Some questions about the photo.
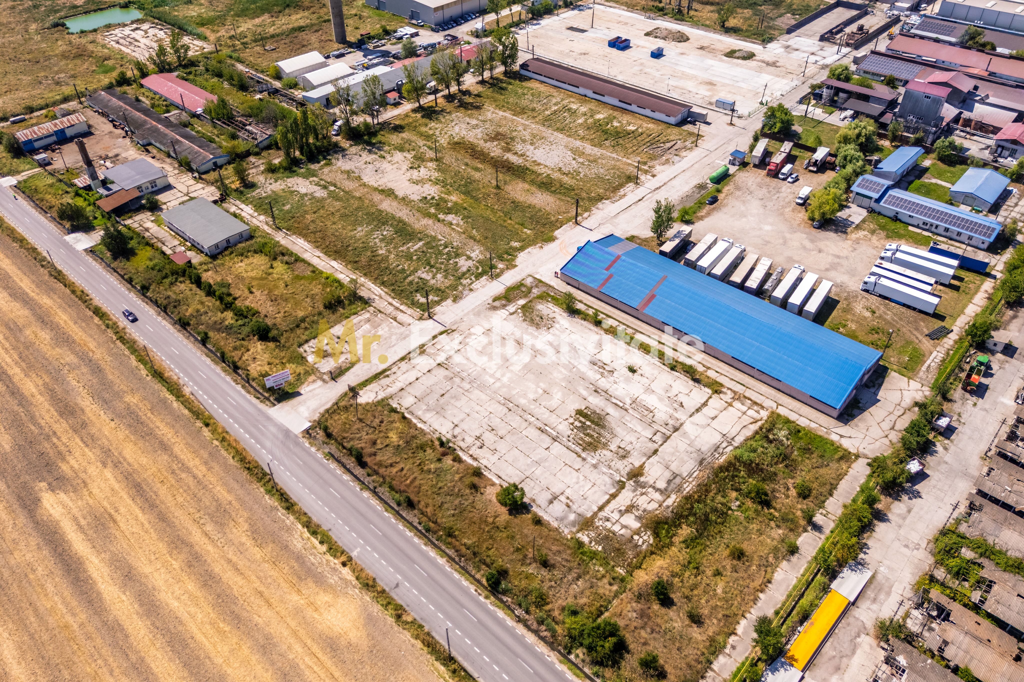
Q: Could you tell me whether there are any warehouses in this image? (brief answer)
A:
Yes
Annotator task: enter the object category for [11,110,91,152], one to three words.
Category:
building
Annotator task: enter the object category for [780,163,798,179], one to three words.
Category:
vehicle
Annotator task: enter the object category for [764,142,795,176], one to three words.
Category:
truck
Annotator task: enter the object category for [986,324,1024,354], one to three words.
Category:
shed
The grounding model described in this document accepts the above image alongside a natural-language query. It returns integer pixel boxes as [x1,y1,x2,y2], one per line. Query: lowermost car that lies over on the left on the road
[122,305,138,320]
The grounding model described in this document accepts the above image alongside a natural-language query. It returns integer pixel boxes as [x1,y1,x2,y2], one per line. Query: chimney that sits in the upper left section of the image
[75,136,103,191]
